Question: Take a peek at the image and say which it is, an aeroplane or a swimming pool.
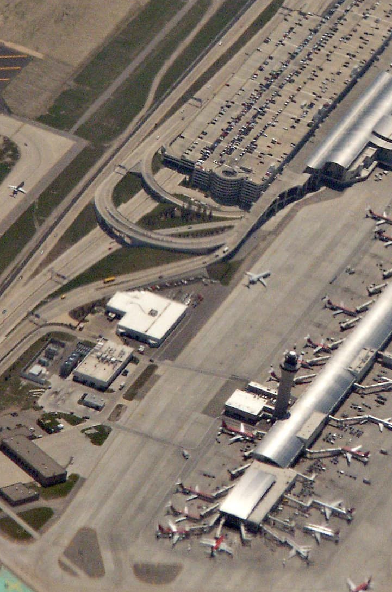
aeroplane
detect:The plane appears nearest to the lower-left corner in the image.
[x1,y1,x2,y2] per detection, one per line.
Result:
[154,521,190,540]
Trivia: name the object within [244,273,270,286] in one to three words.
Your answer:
airplane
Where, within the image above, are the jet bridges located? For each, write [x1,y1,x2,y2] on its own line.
[197,503,219,518]
[355,379,392,393]
[240,527,255,546]
[304,445,346,456]
[227,463,251,476]
[214,520,223,540]
[284,494,317,509]
[336,317,355,330]
[240,449,251,458]
[185,518,218,534]
[329,413,373,424]
[261,524,288,545]
[208,483,235,499]
[289,468,320,484]
[269,515,299,530]
[325,341,337,349]
[304,356,324,366]
[352,302,367,313]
